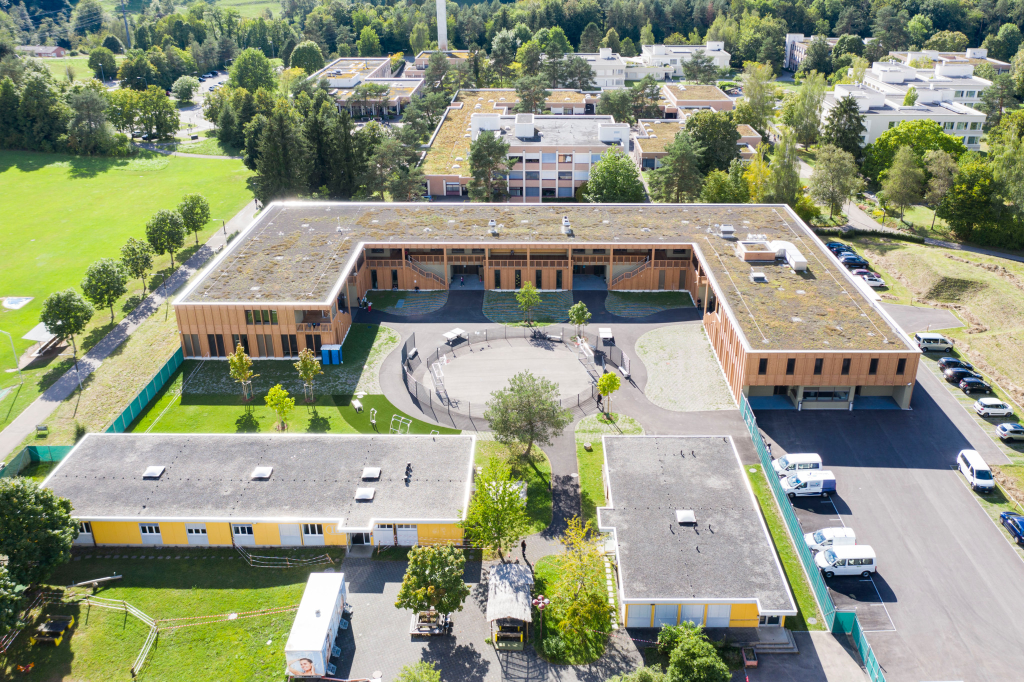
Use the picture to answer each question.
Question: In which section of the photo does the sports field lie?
left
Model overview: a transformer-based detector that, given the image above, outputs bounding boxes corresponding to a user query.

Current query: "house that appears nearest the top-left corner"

[10,49,74,65]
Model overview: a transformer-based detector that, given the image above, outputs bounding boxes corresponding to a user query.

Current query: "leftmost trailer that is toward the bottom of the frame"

[284,571,354,681]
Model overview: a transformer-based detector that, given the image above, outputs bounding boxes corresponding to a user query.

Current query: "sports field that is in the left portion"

[0,150,256,400]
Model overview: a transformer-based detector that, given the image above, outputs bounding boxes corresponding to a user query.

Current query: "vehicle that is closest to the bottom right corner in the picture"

[994,506,1024,541]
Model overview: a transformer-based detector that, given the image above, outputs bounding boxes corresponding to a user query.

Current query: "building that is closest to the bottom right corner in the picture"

[599,436,811,656]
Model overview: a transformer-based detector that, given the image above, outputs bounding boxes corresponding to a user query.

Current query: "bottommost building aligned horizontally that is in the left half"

[32,434,475,572]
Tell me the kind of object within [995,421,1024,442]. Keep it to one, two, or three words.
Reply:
car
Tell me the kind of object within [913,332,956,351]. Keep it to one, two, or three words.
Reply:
vehicle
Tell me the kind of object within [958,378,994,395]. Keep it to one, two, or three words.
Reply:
car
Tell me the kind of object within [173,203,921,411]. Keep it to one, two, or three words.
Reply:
building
